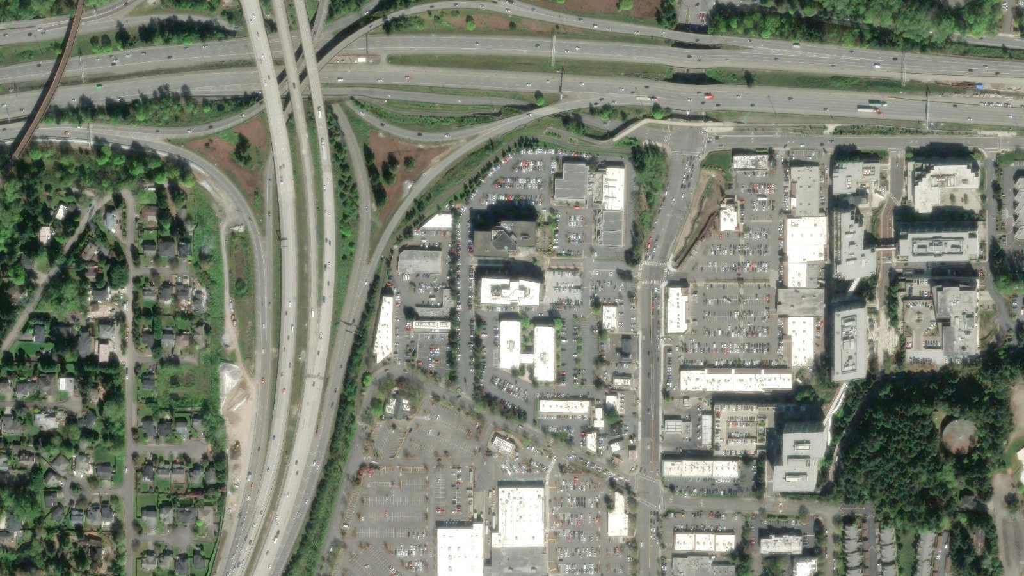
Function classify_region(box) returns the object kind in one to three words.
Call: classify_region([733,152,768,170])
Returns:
building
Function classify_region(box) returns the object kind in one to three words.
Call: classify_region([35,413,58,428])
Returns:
house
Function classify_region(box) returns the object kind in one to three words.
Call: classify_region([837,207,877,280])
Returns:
building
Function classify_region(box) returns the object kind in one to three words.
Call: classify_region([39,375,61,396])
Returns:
house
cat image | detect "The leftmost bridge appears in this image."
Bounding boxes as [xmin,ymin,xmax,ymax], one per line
[13,0,84,157]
